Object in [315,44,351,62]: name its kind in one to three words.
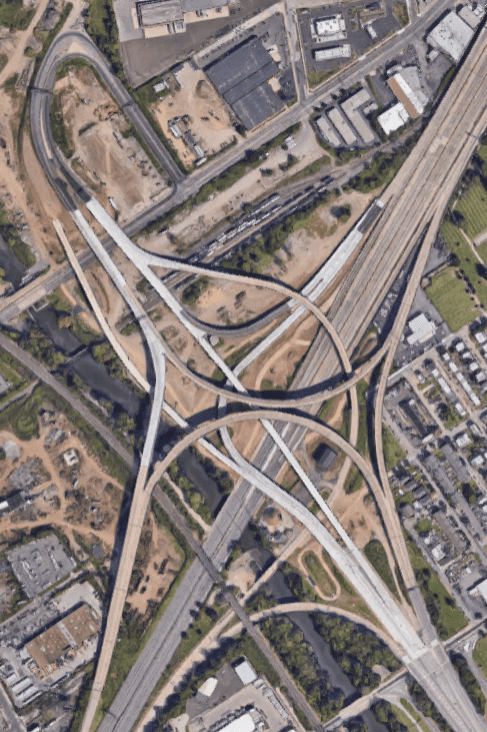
building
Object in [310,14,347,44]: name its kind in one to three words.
building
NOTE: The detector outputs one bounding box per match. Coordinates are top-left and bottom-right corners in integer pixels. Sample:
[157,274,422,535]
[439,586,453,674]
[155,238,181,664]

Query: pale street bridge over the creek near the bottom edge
[320,690,378,732]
